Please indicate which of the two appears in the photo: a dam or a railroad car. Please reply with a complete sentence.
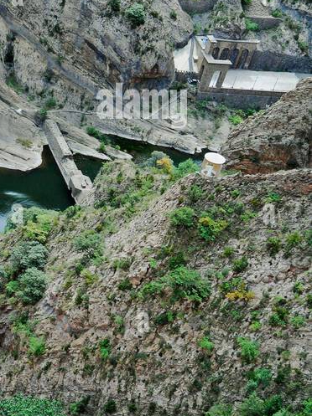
Of the two, only a dam appears.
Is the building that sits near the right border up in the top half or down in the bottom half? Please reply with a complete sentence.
It is in the top half that the building that sits near the right border appears.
